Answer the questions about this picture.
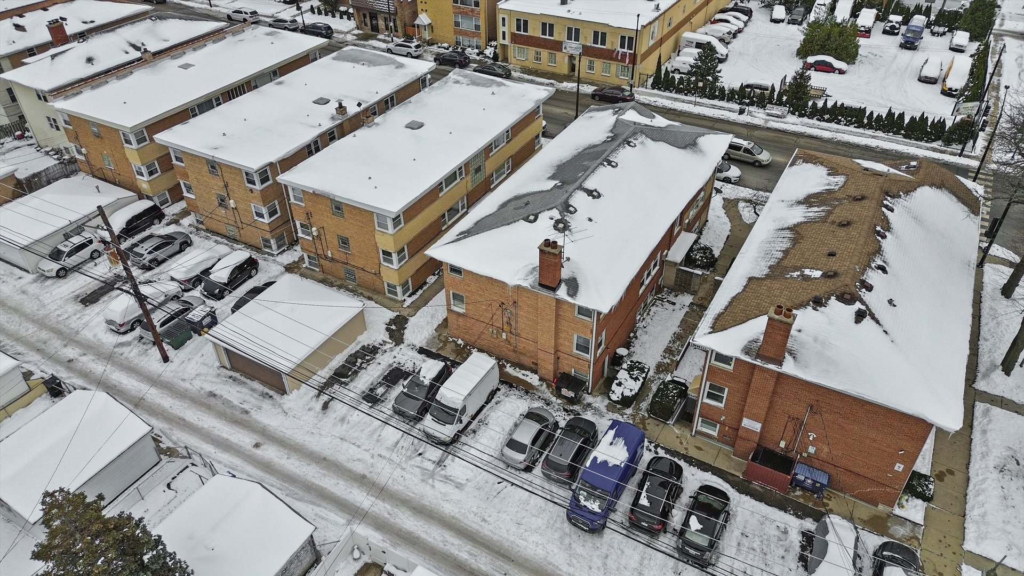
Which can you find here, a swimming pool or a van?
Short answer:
van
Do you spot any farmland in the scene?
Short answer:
No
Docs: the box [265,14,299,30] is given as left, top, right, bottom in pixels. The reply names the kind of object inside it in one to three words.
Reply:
car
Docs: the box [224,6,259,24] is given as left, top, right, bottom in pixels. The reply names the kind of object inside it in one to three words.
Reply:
car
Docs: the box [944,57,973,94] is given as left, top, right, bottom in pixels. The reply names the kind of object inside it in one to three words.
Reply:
van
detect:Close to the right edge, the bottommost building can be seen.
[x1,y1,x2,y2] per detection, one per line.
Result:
[690,147,981,508]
